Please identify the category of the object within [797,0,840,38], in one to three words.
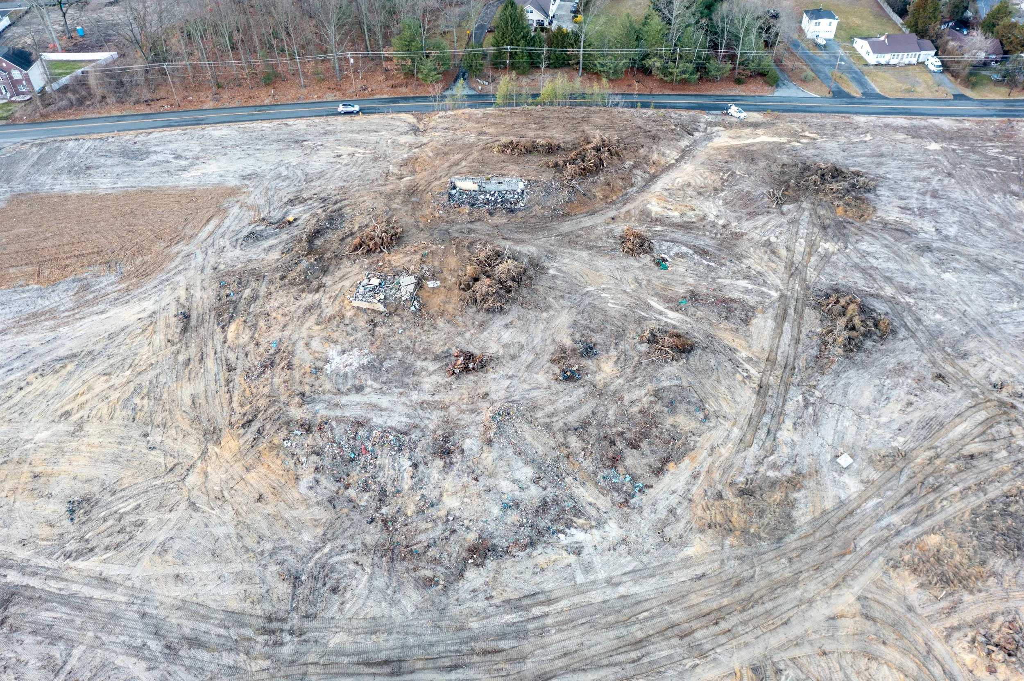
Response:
house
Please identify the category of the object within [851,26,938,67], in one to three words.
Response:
house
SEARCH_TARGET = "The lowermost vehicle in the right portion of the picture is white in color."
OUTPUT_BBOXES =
[726,103,751,118]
